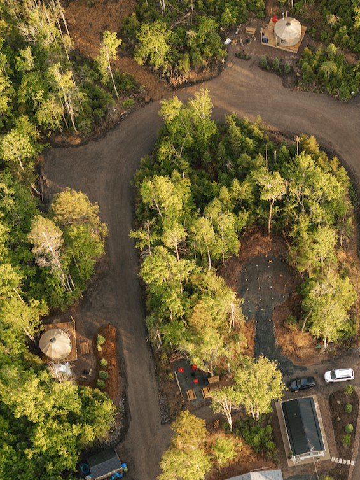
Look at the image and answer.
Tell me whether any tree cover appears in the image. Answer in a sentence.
Yes, tree cover can be seen from above here.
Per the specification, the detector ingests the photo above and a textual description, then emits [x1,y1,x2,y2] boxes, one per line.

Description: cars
[324,368,355,383]
[289,377,318,394]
